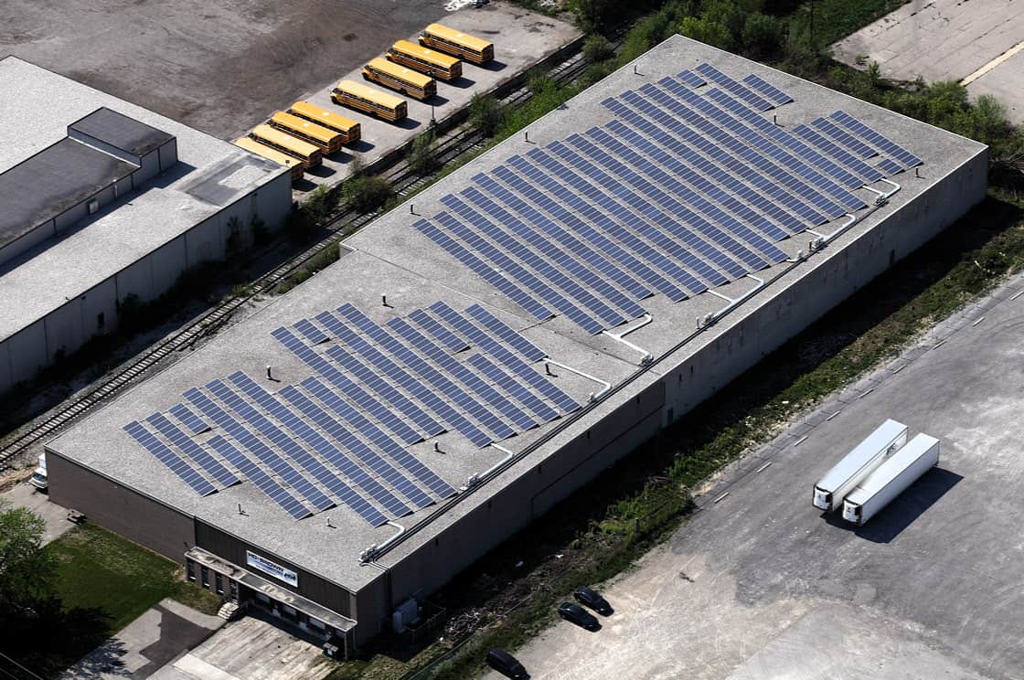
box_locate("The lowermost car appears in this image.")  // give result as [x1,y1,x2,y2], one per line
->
[482,644,526,677]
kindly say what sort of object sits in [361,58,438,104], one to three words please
bus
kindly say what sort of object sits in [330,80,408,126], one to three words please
bus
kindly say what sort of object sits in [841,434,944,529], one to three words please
trailer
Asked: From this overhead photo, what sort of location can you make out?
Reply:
industrial area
